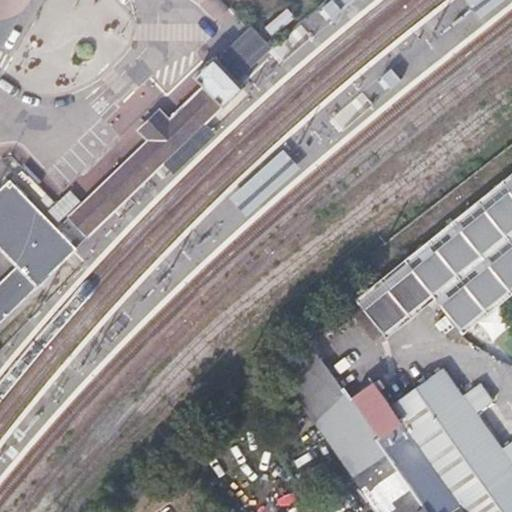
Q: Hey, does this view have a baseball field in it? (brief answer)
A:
No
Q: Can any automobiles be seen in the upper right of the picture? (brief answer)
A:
No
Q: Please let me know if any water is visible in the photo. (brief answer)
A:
No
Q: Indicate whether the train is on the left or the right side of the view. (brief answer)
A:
left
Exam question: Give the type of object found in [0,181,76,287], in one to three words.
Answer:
building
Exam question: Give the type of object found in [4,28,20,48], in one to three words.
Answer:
car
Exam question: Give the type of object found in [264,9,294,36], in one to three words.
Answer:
shed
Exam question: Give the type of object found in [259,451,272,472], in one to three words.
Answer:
vehicle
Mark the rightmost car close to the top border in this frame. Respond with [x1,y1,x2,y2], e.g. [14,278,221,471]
[199,16,218,36]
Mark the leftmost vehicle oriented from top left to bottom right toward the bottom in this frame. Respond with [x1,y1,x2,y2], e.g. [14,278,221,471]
[208,458,227,480]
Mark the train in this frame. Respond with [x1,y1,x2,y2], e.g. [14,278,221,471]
[0,273,102,402]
